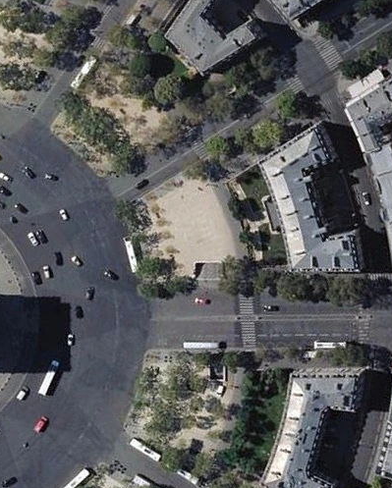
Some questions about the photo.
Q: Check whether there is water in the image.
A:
No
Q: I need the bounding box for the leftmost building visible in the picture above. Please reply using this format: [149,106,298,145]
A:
[164,0,260,72]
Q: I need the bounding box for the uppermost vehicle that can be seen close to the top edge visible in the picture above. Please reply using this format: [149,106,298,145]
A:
[126,10,139,27]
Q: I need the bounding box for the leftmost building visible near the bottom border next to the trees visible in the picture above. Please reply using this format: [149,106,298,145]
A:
[262,371,362,488]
